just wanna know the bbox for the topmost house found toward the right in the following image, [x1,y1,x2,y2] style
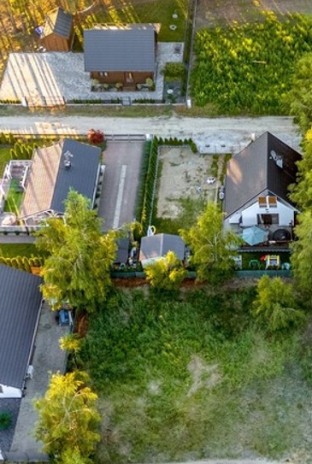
[227,130,302,228]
